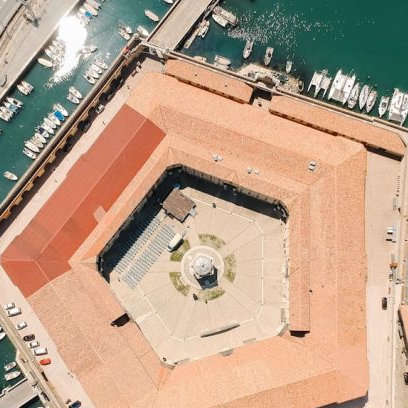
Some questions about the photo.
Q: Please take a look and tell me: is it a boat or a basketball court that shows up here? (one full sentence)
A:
There is a boat in the scene.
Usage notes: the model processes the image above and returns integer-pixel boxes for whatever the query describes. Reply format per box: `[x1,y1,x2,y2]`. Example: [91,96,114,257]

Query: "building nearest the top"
[165,58,254,106]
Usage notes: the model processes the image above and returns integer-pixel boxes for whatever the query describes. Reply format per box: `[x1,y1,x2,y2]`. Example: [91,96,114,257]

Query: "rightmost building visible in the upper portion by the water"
[270,94,406,159]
